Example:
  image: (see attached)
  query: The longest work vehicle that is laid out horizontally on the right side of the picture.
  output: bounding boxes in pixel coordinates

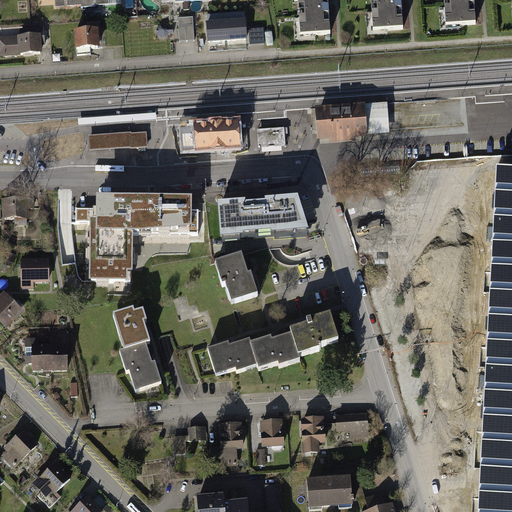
[355,224,385,236]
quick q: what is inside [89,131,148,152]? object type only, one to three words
shed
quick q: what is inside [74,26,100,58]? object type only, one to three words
house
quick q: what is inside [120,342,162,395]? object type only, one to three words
building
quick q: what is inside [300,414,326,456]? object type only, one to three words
house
